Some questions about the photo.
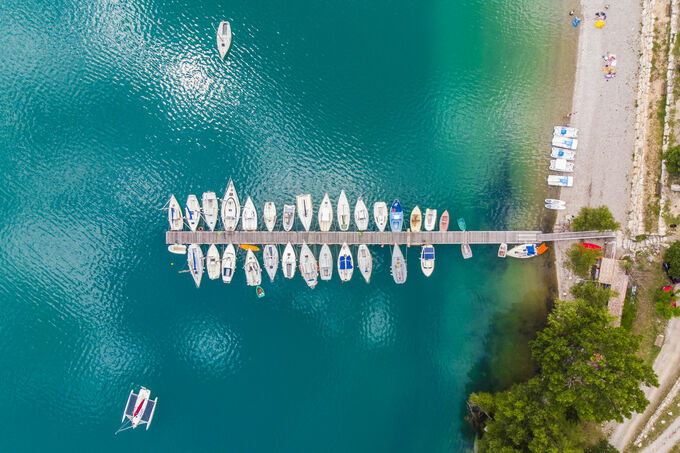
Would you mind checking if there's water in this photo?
Yes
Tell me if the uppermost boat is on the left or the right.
left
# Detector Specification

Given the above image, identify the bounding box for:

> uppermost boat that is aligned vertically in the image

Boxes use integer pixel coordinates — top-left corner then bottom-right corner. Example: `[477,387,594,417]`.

[212,18,232,60]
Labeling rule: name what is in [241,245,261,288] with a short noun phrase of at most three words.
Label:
boat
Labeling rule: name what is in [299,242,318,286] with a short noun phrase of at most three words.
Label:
boat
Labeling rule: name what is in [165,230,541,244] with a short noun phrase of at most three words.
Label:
pier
